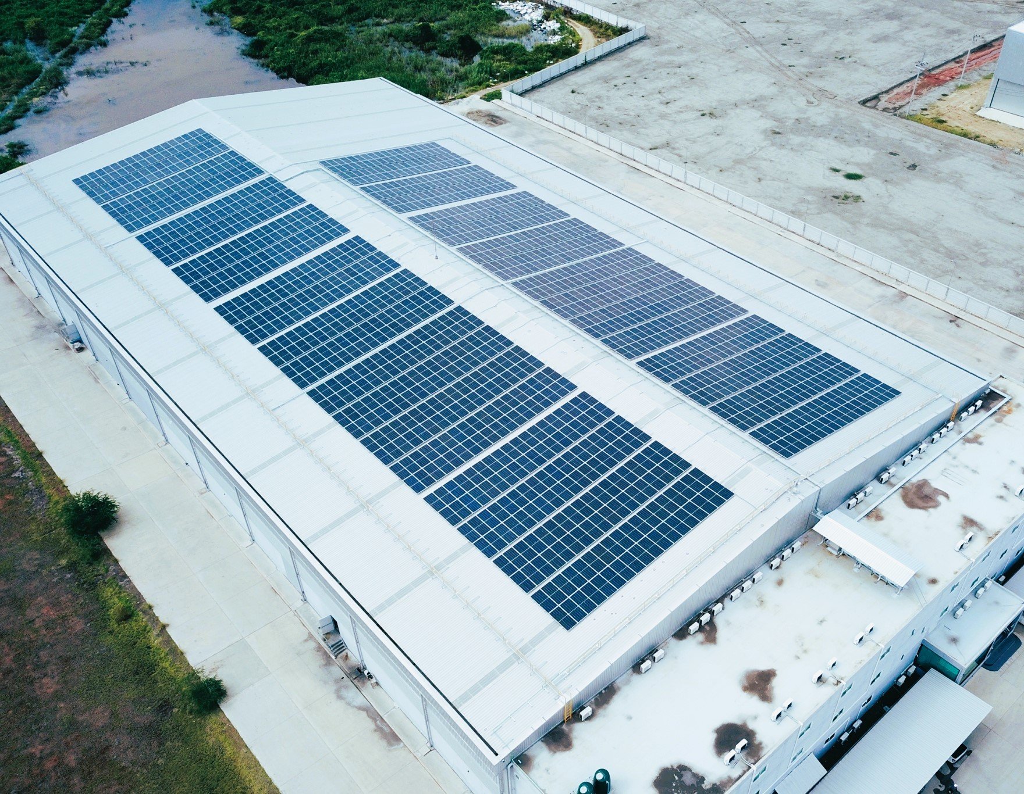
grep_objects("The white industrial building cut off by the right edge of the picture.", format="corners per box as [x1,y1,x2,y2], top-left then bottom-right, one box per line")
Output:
[983,20,1024,116]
